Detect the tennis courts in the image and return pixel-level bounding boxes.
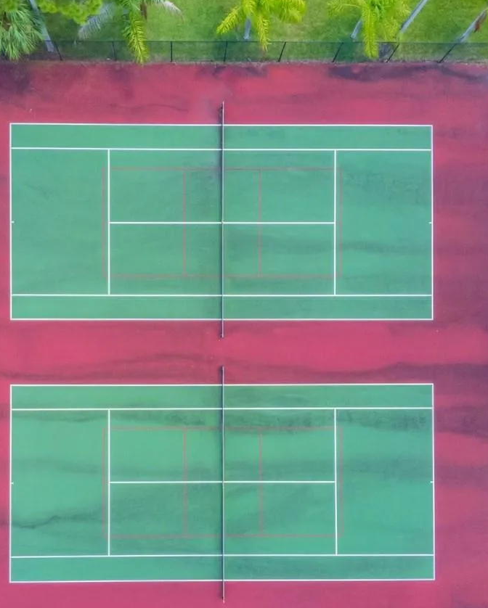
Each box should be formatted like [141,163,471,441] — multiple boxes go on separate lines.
[9,124,434,320]
[9,385,435,582]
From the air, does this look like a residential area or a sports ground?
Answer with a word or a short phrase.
sports ground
